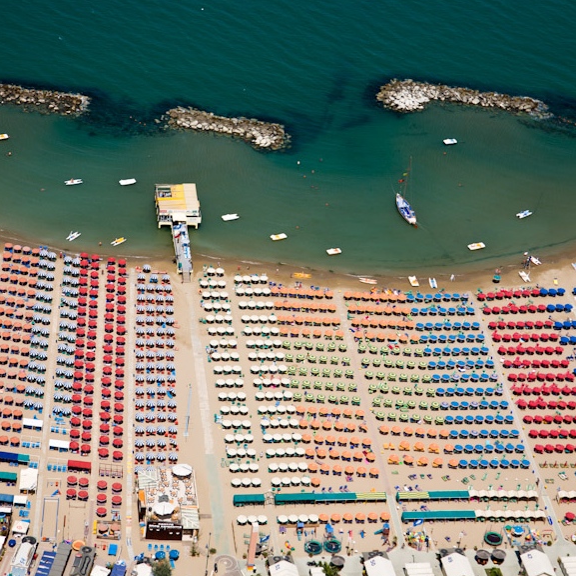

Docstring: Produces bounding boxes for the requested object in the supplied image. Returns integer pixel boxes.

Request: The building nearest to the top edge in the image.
[155,185,200,230]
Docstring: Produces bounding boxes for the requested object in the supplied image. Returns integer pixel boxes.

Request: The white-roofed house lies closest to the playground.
[520,551,556,576]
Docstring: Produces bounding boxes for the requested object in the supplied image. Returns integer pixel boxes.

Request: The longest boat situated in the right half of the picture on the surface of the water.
[395,167,418,227]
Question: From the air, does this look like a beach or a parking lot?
beach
